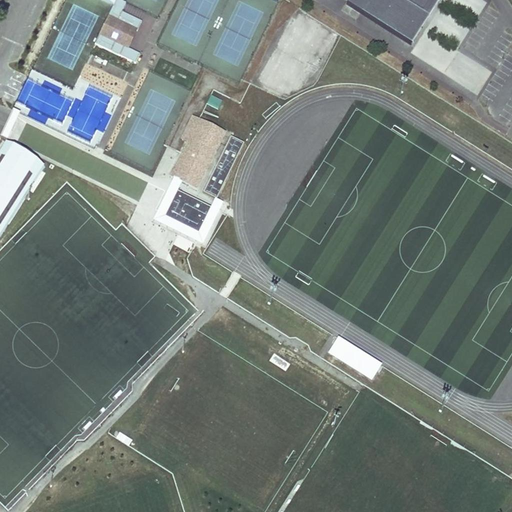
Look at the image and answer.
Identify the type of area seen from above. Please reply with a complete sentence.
This looks like a sports ground.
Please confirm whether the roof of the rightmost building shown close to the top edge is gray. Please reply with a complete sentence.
Yes, the roof of the rightmost building shown close to the top edge appears gray.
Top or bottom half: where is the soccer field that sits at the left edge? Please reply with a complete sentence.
Seen from above, the soccer field that sits at the left edge lies in the bottom half of the view.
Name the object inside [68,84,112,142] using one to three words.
sports court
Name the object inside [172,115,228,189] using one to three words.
building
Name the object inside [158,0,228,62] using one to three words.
tennis court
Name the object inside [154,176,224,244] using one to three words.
building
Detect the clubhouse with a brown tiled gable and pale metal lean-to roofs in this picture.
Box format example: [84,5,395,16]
[96,0,142,64]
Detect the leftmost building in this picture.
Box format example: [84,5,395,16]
[0,142,46,240]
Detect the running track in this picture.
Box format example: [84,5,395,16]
[192,84,512,446]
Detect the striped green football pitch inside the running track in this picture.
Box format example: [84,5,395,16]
[258,100,512,398]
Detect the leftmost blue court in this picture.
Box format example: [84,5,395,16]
[18,76,72,124]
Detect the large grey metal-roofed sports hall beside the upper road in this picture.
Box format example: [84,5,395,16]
[338,0,440,48]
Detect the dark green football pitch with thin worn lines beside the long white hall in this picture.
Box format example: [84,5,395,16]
[0,182,197,507]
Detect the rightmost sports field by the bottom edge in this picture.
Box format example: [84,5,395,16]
[114,332,328,512]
